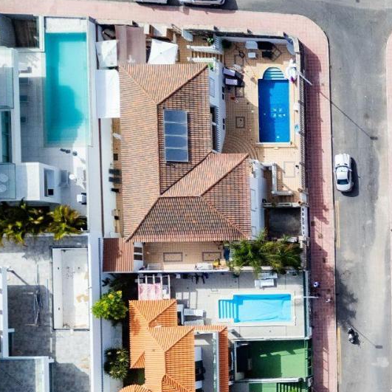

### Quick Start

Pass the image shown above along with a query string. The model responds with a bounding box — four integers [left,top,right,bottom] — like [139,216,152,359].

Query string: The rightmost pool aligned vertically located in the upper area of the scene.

[255,65,293,145]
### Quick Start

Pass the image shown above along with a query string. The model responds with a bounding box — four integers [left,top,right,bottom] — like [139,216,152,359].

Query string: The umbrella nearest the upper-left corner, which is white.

[96,40,118,69]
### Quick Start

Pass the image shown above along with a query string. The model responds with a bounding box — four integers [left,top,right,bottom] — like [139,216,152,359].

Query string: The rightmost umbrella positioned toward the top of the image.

[152,39,180,63]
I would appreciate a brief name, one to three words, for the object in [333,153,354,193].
car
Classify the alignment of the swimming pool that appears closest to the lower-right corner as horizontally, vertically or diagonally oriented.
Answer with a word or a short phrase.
horizontally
